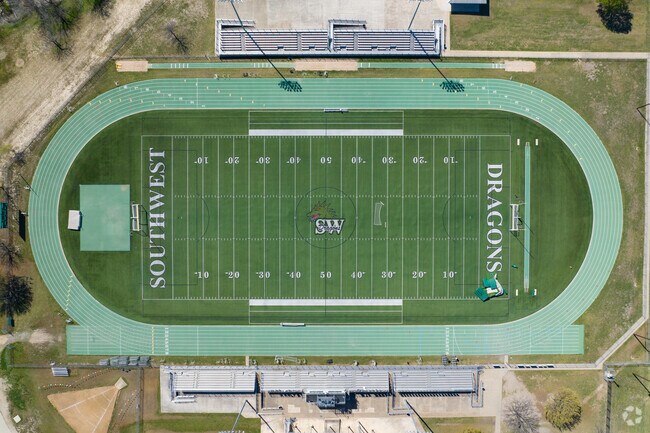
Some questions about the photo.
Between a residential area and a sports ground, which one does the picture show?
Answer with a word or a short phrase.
sports ground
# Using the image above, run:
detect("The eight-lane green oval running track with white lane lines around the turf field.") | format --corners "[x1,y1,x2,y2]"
[27,78,624,356]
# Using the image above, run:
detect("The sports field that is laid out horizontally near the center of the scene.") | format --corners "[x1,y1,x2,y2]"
[58,109,593,325]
